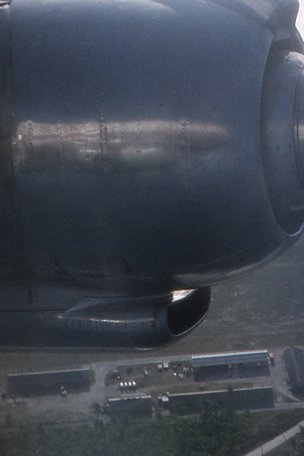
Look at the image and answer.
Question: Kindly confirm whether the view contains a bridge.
No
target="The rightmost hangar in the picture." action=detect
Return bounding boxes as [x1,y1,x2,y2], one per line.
[280,350,304,395]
